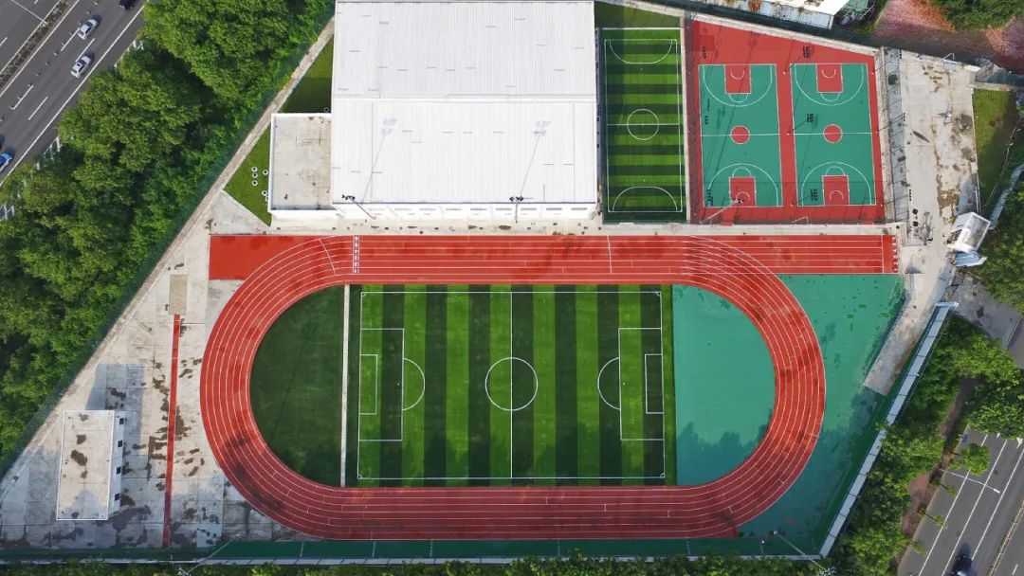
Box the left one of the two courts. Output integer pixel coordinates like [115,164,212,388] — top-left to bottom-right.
[698,63,784,207]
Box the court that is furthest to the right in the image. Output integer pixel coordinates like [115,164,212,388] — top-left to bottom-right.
[790,62,876,206]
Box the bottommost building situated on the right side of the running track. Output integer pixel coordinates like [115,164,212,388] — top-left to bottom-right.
[941,213,990,268]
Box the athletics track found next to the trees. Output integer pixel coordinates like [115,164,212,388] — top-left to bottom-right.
[199,234,900,541]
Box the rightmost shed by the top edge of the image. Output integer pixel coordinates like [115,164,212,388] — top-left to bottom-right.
[844,0,887,33]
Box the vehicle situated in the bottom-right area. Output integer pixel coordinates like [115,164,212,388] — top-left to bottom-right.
[953,551,976,576]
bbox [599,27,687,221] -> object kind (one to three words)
sports field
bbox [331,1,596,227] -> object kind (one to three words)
building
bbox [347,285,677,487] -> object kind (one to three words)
sports field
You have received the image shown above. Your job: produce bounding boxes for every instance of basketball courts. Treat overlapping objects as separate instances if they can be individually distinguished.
[698,63,784,207]
[790,62,876,206]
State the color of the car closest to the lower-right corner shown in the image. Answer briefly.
black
